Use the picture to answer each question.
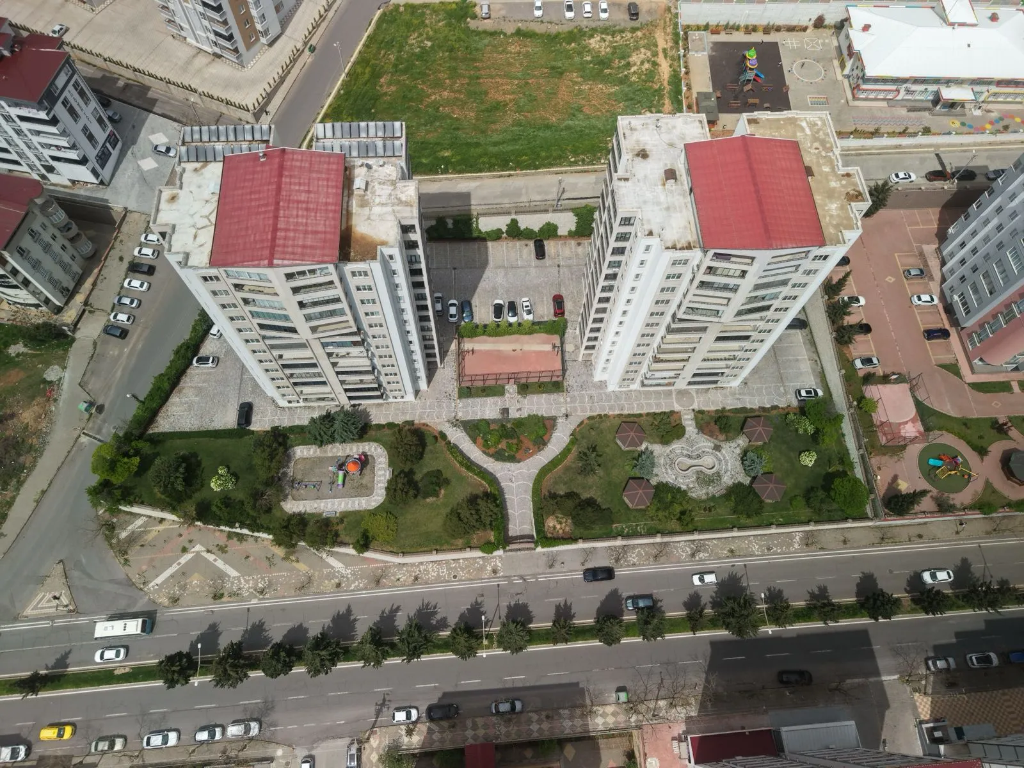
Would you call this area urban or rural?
urban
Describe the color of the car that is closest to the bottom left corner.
white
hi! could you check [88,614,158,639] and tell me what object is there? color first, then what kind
white bus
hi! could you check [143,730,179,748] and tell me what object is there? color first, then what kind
white car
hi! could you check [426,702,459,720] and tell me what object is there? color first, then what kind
black car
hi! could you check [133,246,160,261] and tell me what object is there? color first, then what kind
white car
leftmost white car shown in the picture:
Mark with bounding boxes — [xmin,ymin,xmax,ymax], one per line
[0,743,32,763]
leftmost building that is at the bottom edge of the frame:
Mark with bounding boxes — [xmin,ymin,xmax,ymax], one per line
[684,728,779,768]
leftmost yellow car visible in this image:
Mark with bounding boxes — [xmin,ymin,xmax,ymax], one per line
[35,723,75,741]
